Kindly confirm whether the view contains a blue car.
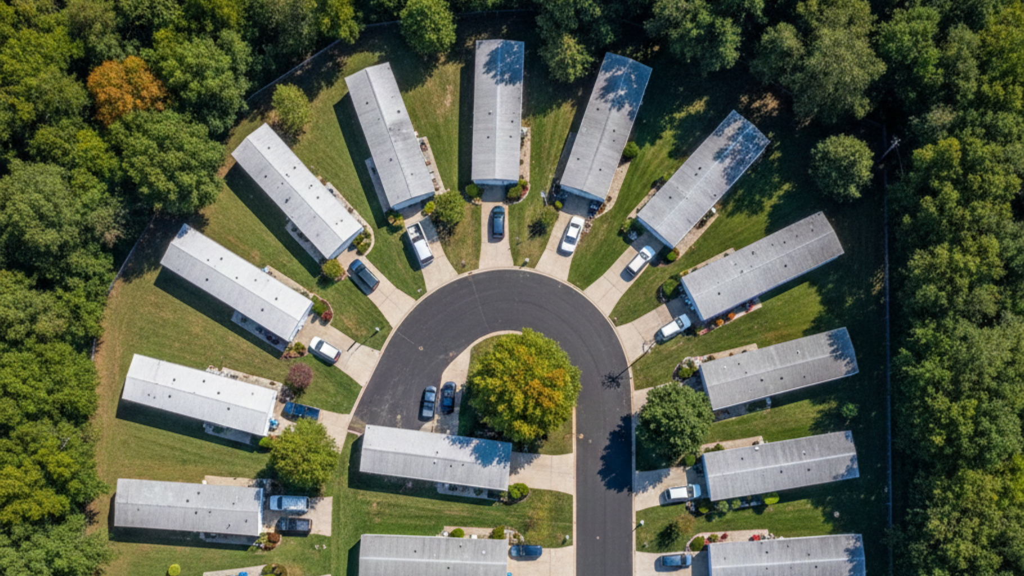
Yes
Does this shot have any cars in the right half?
Yes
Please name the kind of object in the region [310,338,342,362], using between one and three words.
car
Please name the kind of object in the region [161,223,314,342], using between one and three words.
house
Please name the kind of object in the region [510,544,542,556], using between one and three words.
vehicle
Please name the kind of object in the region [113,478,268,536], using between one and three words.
house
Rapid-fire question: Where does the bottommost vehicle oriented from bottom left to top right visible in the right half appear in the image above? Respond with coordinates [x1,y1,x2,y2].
[658,316,691,340]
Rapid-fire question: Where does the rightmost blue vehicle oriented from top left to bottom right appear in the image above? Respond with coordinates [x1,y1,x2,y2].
[352,260,381,291]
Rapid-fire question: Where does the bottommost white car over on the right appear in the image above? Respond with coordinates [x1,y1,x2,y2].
[666,486,700,500]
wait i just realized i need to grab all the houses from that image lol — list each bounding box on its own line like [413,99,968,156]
[359,533,508,576]
[122,353,282,437]
[231,122,364,262]
[113,478,268,536]
[698,327,858,411]
[559,54,652,206]
[636,109,770,252]
[680,211,843,323]
[701,430,859,502]
[706,534,866,576]
[161,223,314,342]
[345,62,435,211]
[471,38,524,187]
[360,424,513,491]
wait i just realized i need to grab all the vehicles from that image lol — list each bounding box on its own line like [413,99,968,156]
[277,517,312,531]
[666,486,700,500]
[492,207,506,240]
[660,554,692,567]
[510,544,542,556]
[563,217,584,252]
[284,402,321,421]
[407,223,433,266]
[658,316,691,340]
[352,260,381,291]
[626,247,655,277]
[423,386,438,420]
[271,496,310,511]
[442,382,456,414]
[310,338,342,362]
